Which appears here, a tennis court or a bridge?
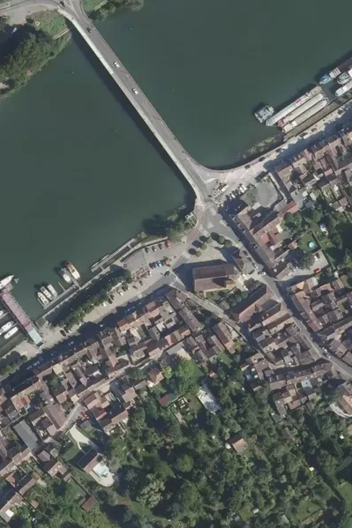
bridge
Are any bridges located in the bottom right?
No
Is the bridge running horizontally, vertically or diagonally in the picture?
diagonally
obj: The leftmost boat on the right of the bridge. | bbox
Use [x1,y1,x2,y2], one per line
[255,104,275,121]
